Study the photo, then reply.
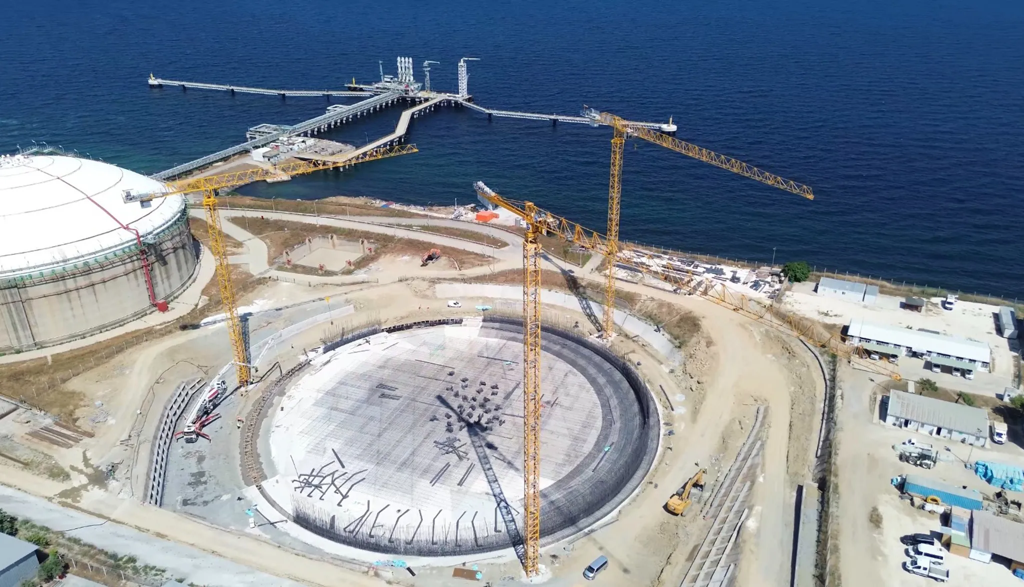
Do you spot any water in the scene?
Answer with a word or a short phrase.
Yes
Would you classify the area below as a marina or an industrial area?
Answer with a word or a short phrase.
industrial area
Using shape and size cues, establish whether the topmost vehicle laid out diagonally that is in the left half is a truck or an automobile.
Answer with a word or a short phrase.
truck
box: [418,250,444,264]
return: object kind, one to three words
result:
work vehicle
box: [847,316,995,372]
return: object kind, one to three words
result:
building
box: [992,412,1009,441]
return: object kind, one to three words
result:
vehicle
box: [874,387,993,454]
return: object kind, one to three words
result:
building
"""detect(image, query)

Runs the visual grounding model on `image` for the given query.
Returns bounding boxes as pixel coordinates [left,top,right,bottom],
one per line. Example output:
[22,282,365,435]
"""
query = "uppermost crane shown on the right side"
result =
[586,104,818,344]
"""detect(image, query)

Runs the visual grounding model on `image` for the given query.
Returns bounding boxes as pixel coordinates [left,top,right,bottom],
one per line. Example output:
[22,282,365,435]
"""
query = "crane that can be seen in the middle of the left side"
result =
[120,140,420,394]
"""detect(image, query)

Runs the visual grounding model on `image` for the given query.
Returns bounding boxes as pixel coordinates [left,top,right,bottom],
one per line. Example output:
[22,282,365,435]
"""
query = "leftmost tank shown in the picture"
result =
[0,140,198,348]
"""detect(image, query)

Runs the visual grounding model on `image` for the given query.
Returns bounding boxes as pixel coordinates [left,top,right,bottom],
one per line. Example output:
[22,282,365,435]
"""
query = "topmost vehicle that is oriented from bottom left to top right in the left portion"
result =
[179,341,279,425]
